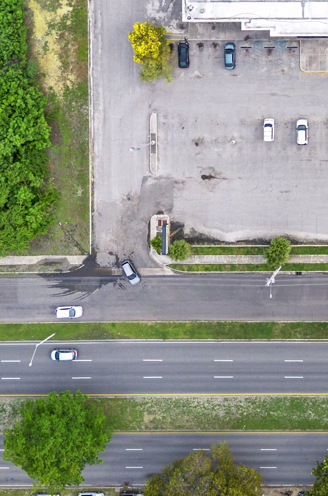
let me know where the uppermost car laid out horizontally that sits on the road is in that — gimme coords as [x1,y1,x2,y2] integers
[55,306,83,319]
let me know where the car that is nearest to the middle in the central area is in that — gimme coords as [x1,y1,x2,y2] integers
[120,260,140,283]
